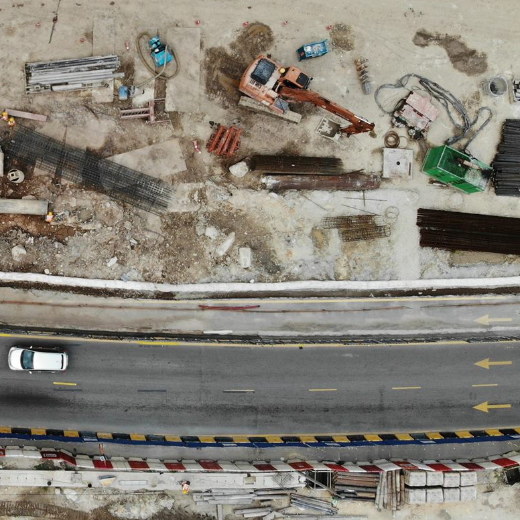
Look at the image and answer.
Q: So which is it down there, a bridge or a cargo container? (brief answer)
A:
cargo container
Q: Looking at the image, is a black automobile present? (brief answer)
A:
No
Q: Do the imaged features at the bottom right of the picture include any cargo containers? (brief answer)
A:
No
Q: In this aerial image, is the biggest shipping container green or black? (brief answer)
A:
green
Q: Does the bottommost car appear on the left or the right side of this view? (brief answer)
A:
left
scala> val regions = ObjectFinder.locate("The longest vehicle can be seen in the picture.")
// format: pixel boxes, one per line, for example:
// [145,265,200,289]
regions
[233,53,377,140]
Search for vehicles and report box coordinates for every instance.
[7,344,69,375]
[233,53,377,140]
